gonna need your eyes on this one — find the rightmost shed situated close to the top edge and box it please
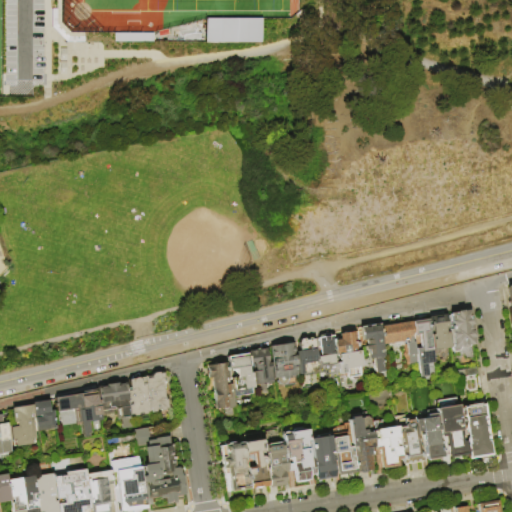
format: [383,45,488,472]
[206,16,264,44]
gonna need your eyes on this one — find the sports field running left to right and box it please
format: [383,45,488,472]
[63,0,300,30]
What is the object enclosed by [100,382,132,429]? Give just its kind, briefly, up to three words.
house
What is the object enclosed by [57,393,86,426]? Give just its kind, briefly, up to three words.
house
